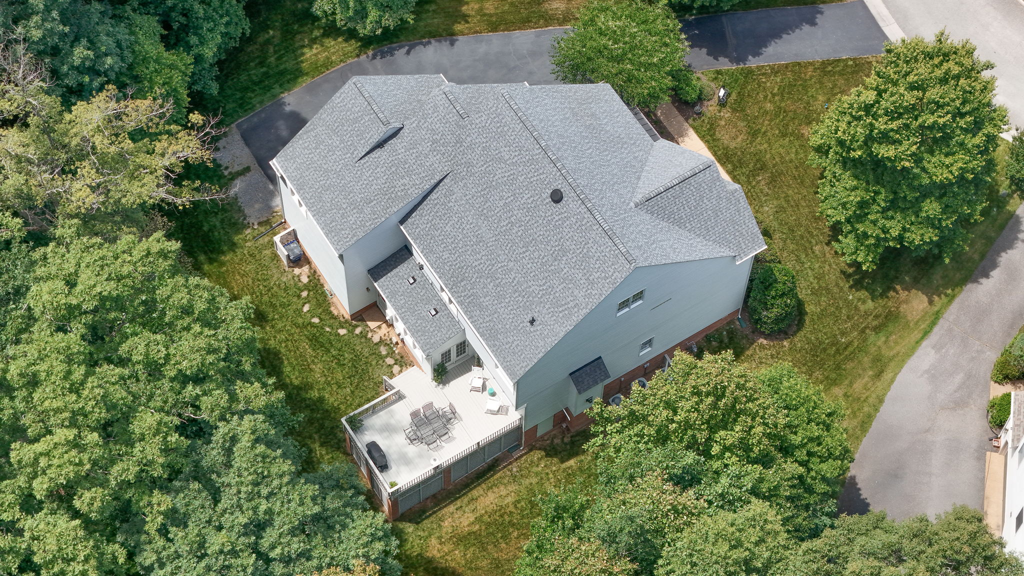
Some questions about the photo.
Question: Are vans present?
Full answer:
No, the picture doesn't show any van.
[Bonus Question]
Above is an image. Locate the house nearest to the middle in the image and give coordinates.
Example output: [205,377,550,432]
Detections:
[271,74,768,450]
